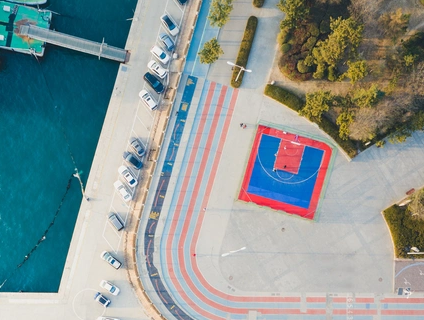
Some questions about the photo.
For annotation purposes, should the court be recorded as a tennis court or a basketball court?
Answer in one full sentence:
The court can be classified as a basketball court.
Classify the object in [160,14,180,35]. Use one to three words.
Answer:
car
